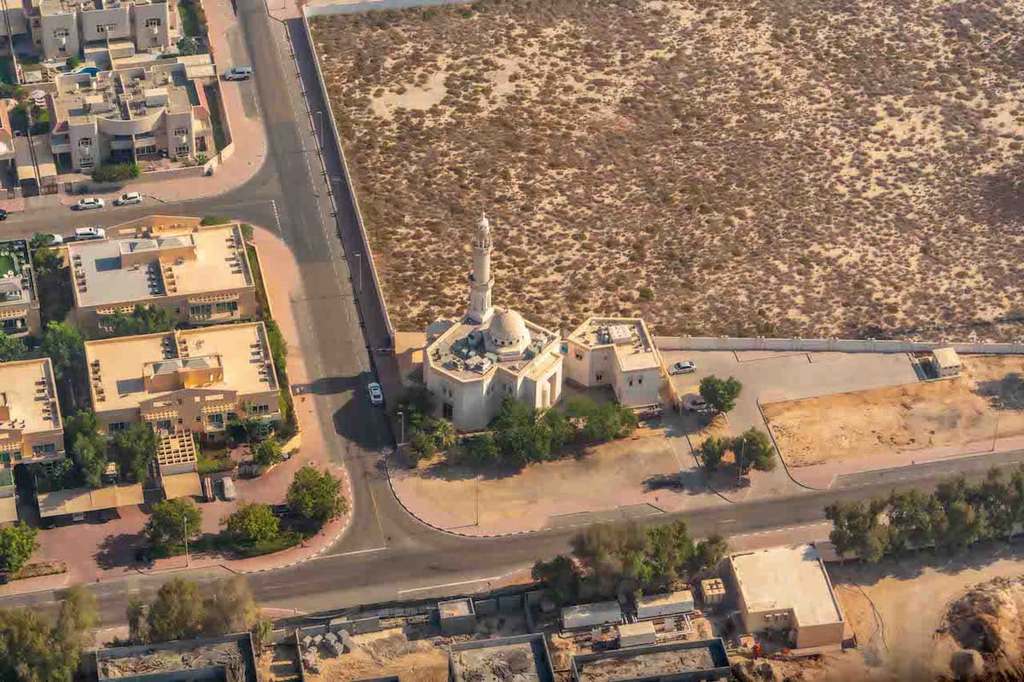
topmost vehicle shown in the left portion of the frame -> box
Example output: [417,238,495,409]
[225,66,254,81]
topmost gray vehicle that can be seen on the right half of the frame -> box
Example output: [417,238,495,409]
[669,362,698,376]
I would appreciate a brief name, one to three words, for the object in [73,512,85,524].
vehicle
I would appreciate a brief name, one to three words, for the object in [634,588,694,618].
building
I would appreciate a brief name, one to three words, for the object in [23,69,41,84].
gazebo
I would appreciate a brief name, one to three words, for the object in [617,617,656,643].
building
